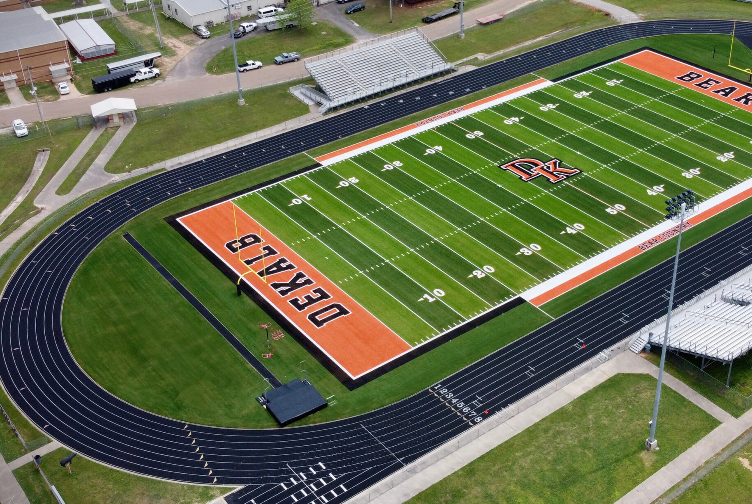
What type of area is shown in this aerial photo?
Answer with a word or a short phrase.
sports ground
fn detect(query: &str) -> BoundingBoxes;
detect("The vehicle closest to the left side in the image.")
[13,117,27,133]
